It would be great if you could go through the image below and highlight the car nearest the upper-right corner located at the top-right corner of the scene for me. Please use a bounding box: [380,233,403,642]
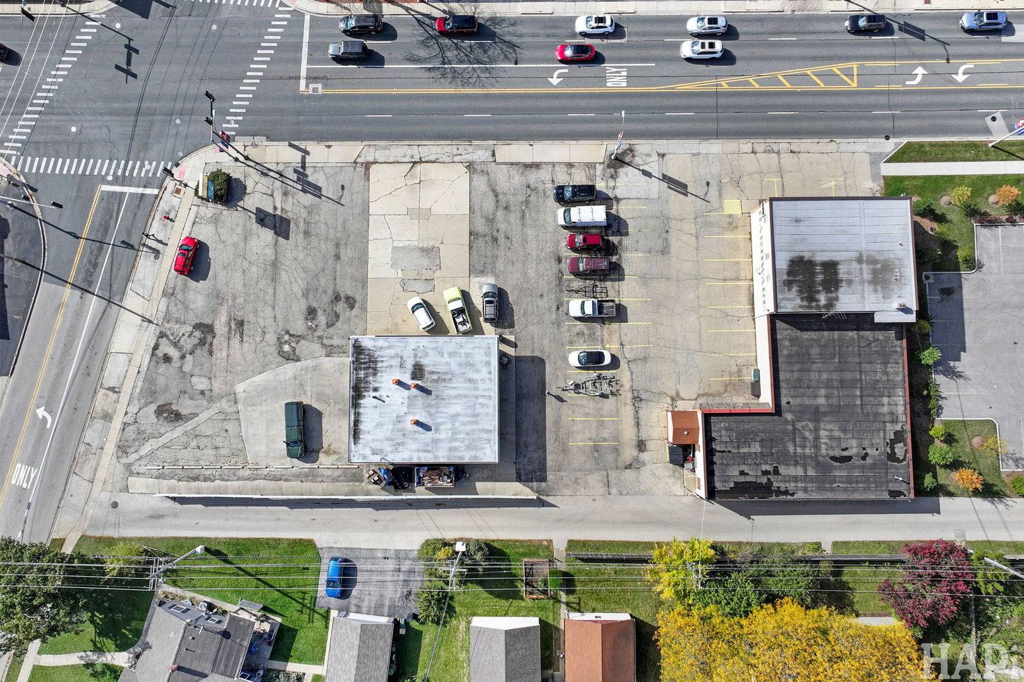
[959,10,1006,33]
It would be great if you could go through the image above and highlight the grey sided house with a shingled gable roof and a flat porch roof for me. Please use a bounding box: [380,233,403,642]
[122,603,263,682]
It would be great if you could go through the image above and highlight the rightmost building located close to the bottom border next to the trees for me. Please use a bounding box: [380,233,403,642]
[563,613,637,682]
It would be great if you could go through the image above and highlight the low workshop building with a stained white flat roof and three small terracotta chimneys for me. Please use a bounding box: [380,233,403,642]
[348,334,501,466]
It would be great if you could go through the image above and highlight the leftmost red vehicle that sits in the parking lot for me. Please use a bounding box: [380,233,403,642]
[175,236,199,275]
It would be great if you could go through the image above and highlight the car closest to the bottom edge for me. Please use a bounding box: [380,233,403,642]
[325,557,345,595]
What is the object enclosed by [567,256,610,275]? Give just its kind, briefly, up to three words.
vehicle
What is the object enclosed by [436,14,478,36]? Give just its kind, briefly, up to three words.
car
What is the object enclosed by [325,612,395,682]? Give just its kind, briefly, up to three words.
building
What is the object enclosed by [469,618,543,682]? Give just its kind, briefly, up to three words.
building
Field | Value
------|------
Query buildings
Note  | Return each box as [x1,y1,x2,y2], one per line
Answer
[693,197,918,500]
[469,618,543,682]
[563,613,637,682]
[348,334,501,466]
[122,603,263,682]
[325,612,395,682]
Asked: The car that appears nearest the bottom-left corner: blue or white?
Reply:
blue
